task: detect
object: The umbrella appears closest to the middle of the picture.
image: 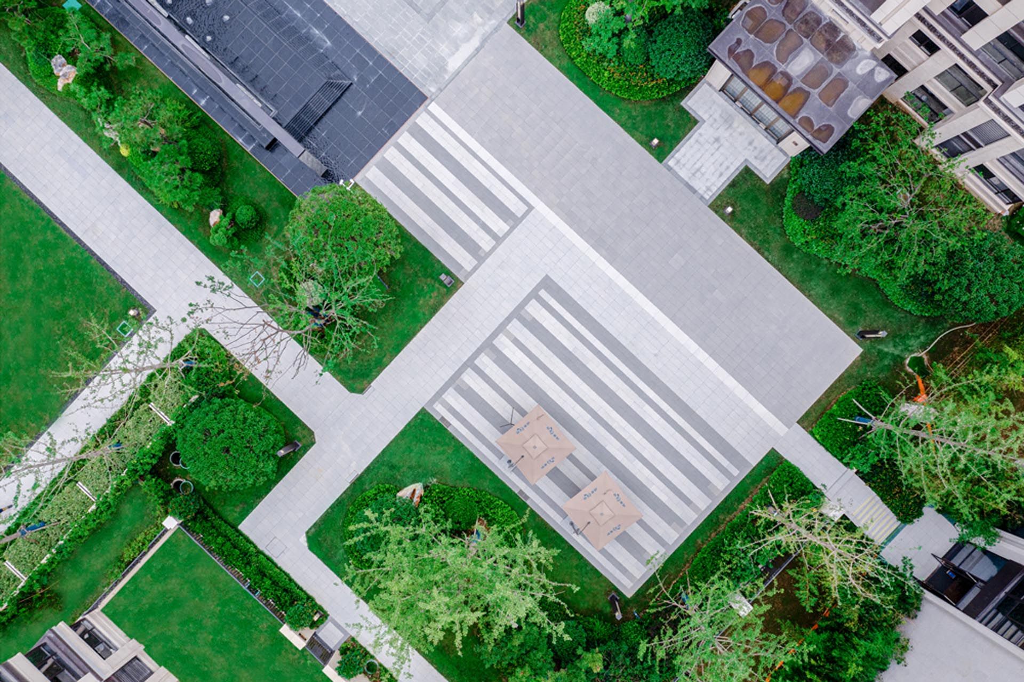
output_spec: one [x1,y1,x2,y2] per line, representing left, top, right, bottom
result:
[496,403,577,485]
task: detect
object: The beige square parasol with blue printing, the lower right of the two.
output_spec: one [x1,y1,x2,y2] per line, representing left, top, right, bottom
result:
[562,470,643,551]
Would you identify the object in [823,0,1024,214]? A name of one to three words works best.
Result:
building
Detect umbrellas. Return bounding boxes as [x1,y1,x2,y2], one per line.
[562,470,643,551]
[496,403,577,485]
